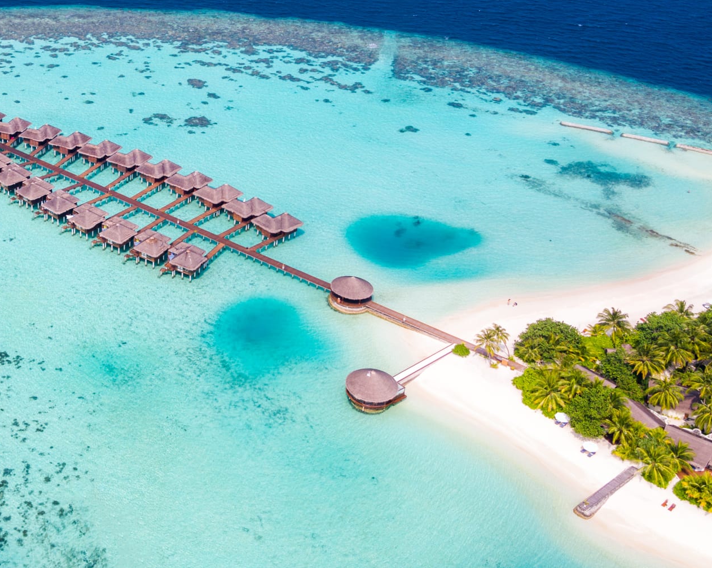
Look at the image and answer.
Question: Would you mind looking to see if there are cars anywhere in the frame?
No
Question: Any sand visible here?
Yes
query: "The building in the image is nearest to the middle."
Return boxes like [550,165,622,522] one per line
[326,276,375,320]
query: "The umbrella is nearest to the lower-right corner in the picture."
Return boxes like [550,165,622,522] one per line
[581,443,598,457]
